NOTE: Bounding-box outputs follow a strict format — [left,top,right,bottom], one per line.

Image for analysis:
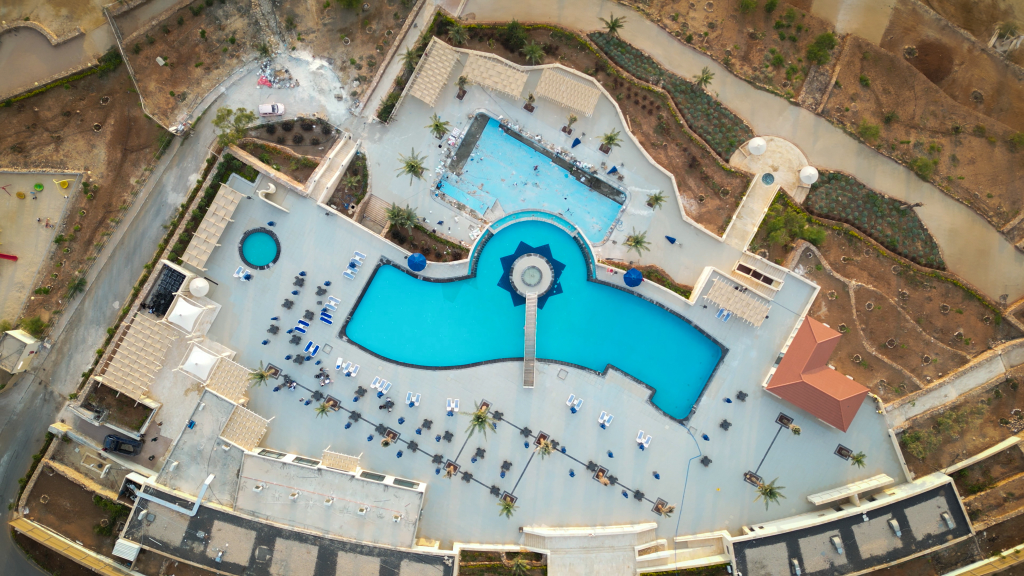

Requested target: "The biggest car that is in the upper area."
[257,101,284,116]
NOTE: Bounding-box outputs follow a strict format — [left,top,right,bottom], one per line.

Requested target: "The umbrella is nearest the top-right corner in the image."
[798,166,819,184]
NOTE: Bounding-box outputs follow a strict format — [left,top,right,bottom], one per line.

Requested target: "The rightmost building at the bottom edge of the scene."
[724,468,974,576]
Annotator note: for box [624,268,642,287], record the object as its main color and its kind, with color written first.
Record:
blue umbrella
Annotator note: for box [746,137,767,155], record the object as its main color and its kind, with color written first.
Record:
white umbrella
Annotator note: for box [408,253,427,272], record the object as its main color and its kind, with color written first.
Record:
blue umbrella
